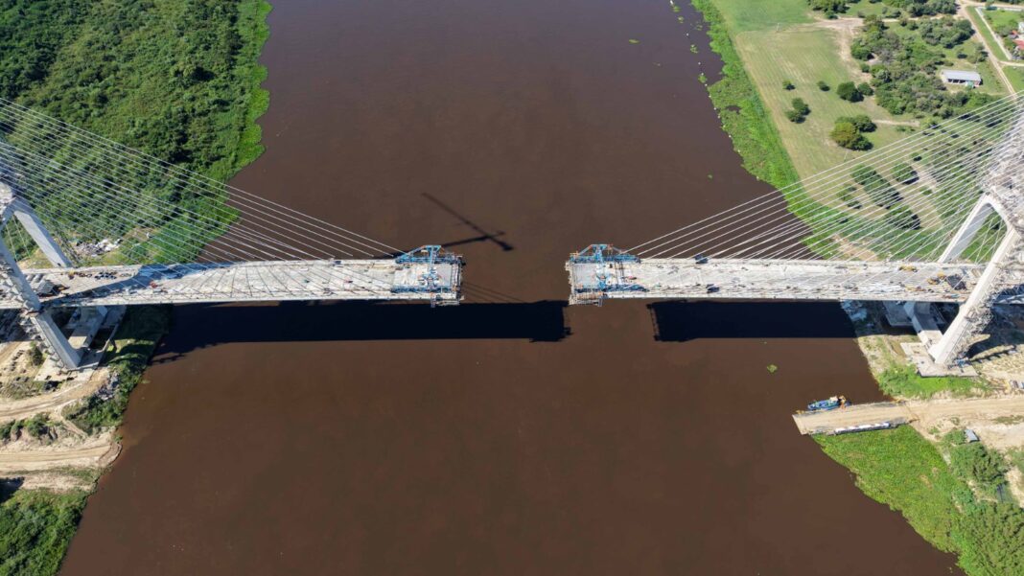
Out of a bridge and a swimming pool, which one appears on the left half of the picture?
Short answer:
bridge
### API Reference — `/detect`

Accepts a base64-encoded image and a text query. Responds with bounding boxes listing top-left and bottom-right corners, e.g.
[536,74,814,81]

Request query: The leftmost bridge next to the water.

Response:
[0,111,452,387]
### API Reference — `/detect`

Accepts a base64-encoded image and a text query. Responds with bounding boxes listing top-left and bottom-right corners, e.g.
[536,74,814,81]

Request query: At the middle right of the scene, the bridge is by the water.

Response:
[581,90,1024,386]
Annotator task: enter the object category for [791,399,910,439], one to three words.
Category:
pier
